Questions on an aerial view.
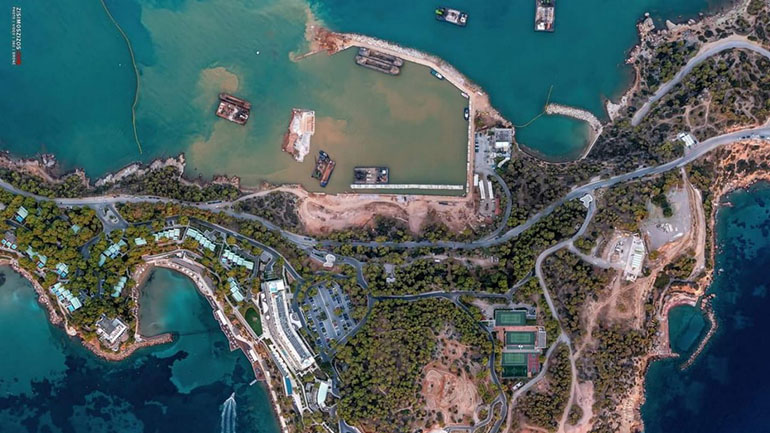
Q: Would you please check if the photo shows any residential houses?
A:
Yes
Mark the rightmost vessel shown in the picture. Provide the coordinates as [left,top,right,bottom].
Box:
[535,0,555,31]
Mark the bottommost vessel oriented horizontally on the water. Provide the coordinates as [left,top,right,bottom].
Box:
[355,168,389,183]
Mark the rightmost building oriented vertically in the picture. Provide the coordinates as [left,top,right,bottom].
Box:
[624,236,646,278]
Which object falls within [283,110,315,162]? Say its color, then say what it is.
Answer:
white ship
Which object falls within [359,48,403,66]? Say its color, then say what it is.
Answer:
gray ship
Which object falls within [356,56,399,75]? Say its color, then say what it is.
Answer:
gray ship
